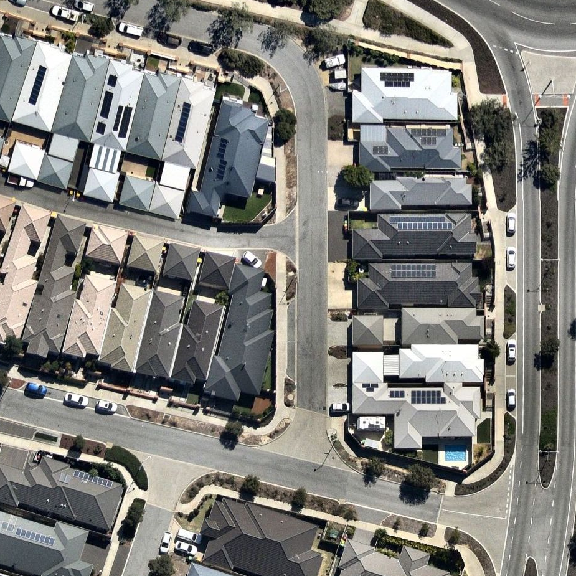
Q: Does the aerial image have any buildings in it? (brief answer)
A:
Yes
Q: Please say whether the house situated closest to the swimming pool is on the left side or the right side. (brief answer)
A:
right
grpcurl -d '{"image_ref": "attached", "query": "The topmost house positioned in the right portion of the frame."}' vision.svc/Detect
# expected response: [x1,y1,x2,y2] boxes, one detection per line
[353,68,457,123]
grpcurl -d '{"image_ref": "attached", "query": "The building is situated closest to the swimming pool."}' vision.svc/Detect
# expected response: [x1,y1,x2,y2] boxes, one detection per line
[353,382,480,447]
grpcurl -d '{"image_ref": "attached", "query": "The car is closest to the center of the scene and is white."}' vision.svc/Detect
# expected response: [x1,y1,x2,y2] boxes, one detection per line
[241,249,262,268]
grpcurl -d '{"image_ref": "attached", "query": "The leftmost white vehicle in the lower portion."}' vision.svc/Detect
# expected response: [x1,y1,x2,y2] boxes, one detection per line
[63,394,86,407]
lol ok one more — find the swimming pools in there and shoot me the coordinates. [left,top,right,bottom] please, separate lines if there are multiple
[443,444,469,462]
